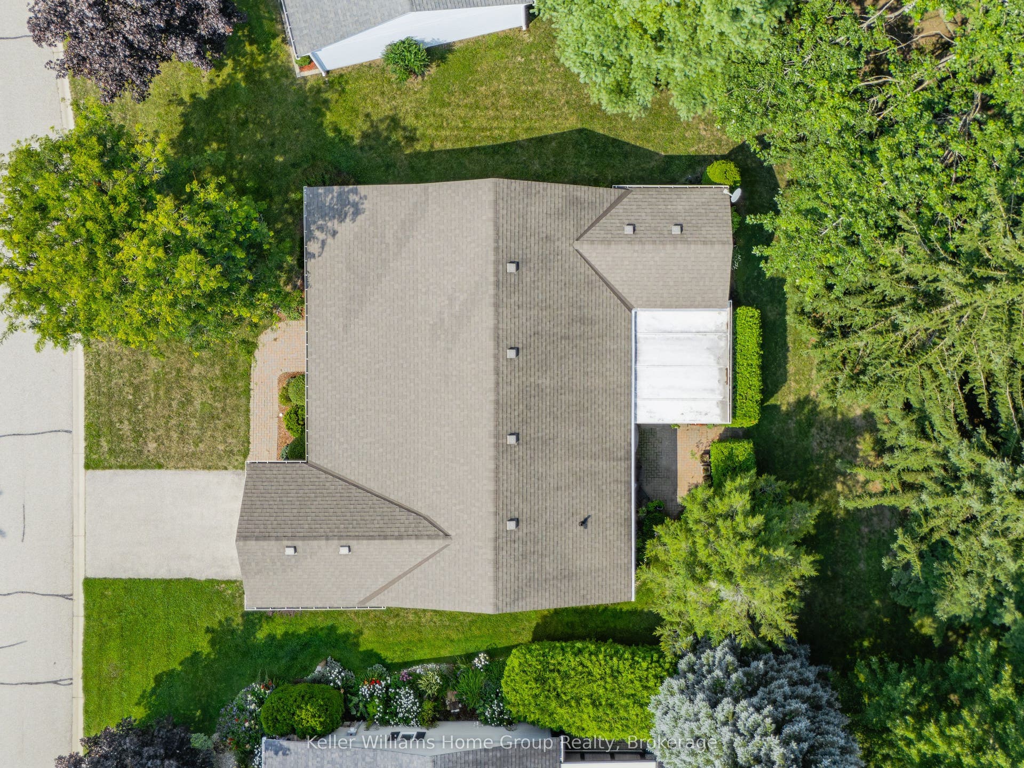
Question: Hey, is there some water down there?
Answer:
No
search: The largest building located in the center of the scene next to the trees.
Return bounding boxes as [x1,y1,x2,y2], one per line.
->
[238,178,734,614]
